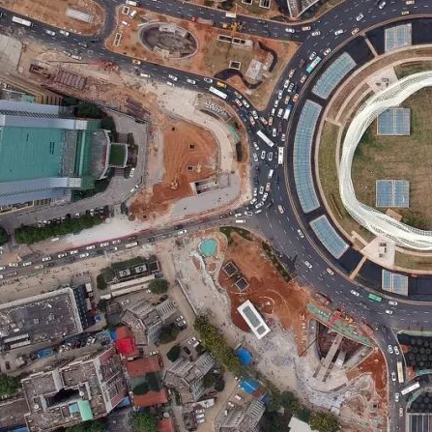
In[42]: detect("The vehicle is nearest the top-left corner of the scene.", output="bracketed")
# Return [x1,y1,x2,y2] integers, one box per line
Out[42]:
[9,14,32,26]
